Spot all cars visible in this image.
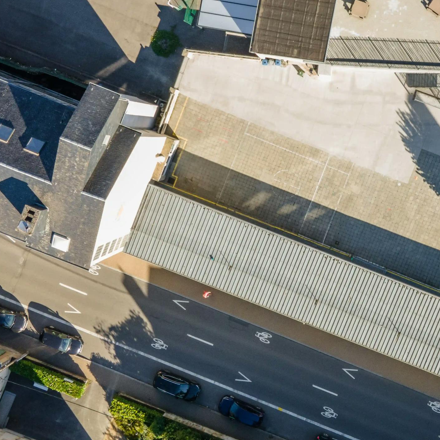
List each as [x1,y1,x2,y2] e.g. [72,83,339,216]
[311,430,342,440]
[0,303,31,334]
[213,392,269,431]
[149,362,205,400]
[34,322,88,360]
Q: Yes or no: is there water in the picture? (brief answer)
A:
No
